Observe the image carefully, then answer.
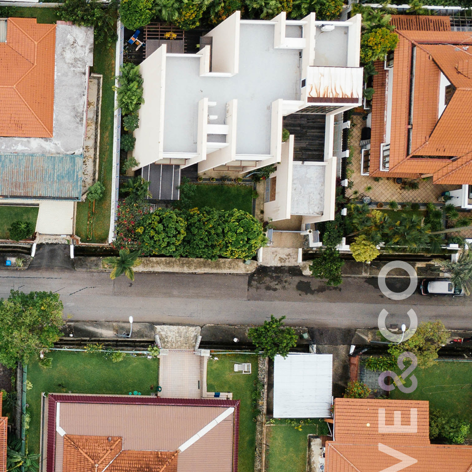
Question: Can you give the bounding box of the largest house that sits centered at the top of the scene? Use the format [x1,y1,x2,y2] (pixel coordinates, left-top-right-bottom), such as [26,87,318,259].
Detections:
[130,11,363,225]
